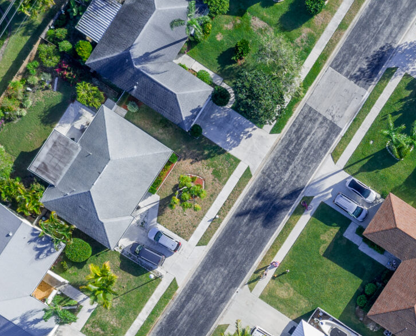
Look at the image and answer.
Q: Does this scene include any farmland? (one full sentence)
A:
No, there's no farmland in this view.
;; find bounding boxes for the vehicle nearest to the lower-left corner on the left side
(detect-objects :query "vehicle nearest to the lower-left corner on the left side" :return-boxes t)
[128,240,168,270]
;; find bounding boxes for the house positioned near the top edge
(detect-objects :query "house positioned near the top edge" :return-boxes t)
[85,0,213,131]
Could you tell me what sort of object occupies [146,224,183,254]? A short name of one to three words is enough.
car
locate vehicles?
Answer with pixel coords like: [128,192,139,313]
[128,240,168,270]
[343,175,379,206]
[331,190,370,224]
[146,224,183,254]
[248,322,275,336]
